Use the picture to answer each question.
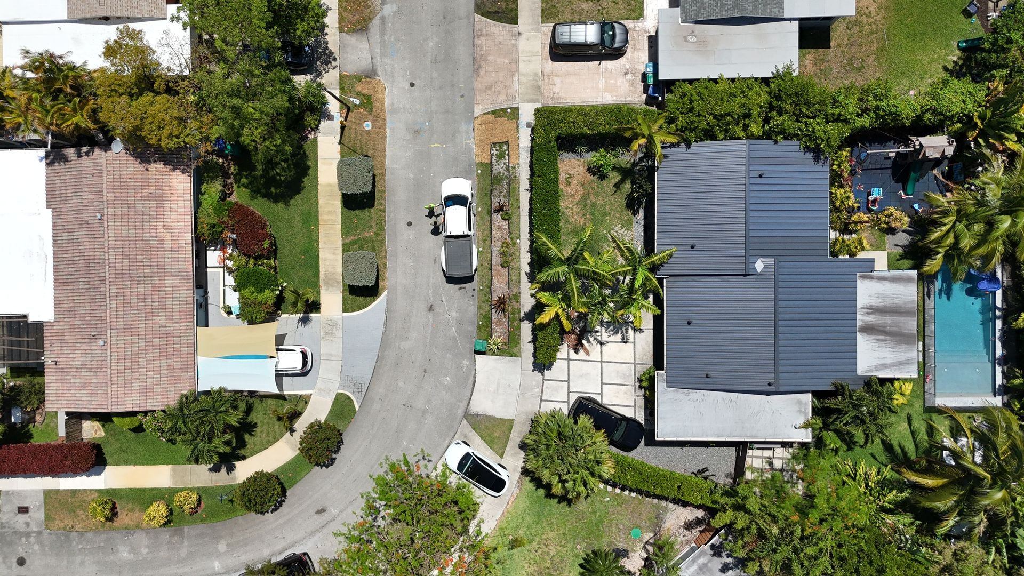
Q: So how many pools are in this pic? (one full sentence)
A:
The photo contains exactly 1 pool.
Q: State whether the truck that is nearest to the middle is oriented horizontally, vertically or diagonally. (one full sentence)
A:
What the image shows is the truck that is nearest to the middle lying vertically.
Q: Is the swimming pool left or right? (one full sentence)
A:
The swimming pool appears in the right half of the scene.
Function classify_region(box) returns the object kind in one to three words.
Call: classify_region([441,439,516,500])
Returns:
car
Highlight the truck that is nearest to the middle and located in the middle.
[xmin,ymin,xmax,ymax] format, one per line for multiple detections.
[437,179,480,276]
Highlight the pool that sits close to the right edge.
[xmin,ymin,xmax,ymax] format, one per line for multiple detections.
[926,255,1010,410]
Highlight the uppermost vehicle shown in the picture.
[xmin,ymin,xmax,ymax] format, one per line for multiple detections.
[549,15,631,56]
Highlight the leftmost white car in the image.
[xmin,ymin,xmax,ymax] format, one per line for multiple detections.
[274,345,315,375]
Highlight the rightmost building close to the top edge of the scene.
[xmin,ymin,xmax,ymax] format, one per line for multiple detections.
[657,0,855,83]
